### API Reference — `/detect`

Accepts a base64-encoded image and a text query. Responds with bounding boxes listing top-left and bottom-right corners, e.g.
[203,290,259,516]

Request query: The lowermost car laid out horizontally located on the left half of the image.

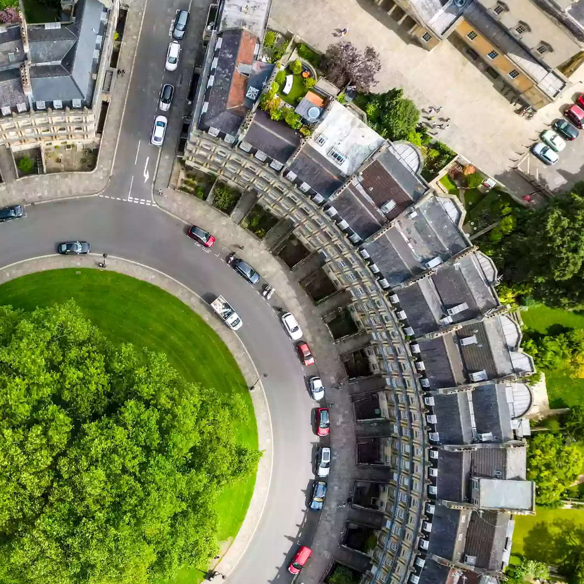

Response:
[60,240,89,255]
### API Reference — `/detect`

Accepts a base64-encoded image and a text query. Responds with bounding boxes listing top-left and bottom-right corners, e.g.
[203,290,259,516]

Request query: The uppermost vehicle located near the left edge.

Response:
[0,204,25,222]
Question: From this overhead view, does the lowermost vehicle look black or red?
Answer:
red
